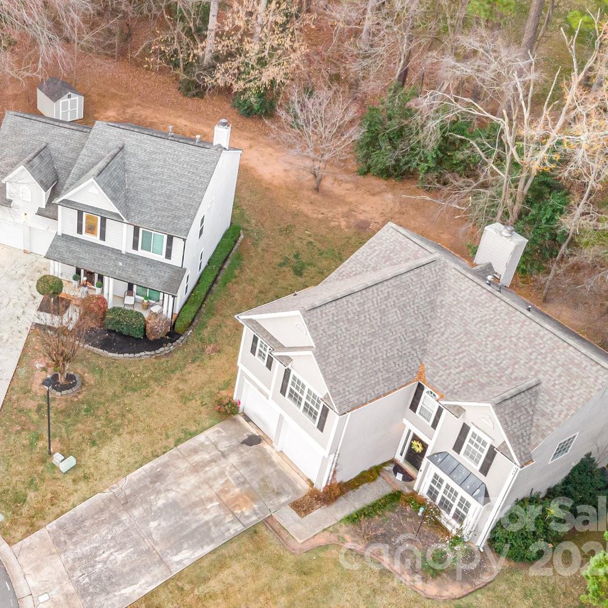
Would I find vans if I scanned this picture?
No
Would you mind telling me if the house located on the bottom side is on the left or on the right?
right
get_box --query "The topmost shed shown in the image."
[41,77,86,122]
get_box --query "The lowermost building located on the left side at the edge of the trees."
[0,109,244,328]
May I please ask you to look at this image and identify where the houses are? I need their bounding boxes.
[231,218,608,551]
[0,109,244,328]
